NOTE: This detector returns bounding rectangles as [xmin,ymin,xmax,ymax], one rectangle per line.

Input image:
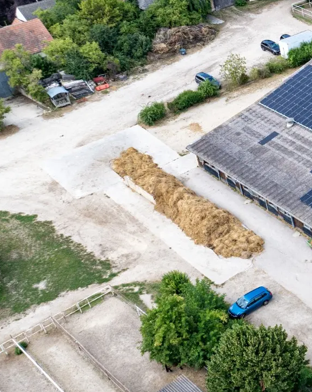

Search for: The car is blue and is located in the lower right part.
[228,292,276,321]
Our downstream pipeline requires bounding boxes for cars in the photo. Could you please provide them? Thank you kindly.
[276,33,288,45]
[192,72,221,86]
[257,41,282,56]
[228,292,276,321]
